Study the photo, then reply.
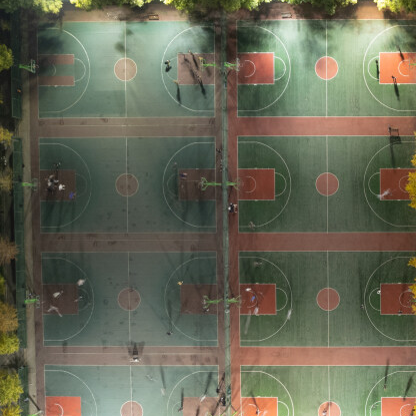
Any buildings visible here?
No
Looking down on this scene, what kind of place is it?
sports ground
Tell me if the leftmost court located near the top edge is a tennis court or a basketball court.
basketball court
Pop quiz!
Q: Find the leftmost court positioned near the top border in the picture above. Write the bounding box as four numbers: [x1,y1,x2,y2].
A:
[37,21,216,117]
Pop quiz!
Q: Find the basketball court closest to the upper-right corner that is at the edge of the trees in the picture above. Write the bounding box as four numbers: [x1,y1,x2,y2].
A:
[236,21,416,117]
